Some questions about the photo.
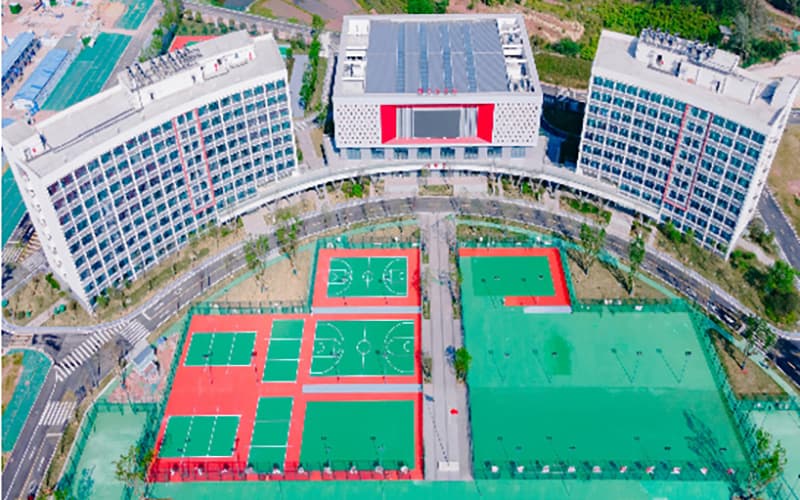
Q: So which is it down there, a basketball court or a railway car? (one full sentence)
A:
Of the two, only a basketball court appears.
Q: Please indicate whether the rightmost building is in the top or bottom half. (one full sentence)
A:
The rightmost building is in the top half of the image.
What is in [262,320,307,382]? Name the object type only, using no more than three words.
sports court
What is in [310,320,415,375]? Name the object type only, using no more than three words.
basketball court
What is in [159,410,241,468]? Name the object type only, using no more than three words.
sports court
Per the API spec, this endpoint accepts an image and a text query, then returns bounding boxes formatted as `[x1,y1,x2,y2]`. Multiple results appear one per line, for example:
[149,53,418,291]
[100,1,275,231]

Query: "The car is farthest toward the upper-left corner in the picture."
[20,227,36,241]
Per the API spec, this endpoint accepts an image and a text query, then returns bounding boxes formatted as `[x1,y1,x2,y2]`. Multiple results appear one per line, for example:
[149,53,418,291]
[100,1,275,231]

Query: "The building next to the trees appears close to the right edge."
[573,25,800,254]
